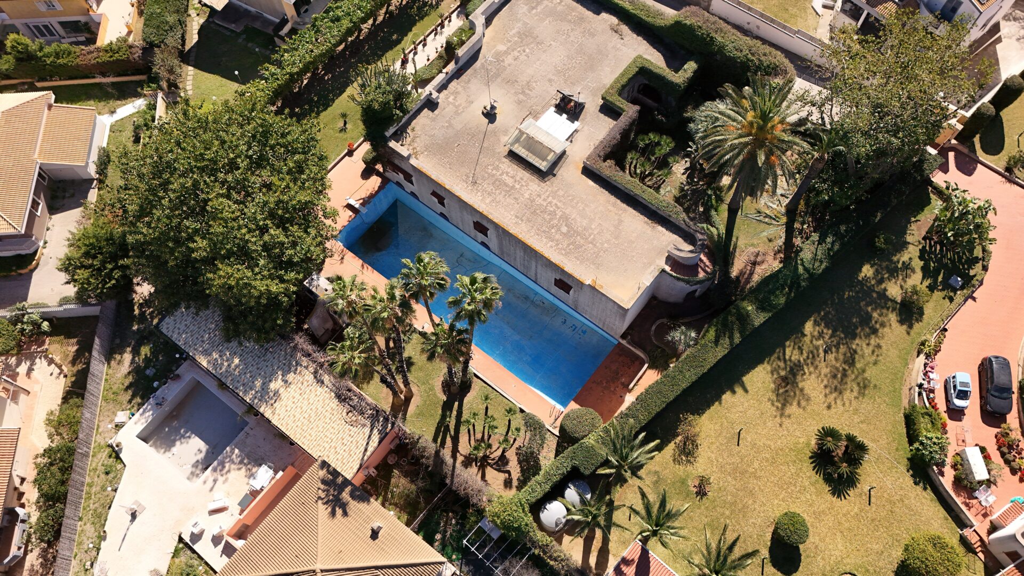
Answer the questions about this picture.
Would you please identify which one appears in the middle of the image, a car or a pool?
pool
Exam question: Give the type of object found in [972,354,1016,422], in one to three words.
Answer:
car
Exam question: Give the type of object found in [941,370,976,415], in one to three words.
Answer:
car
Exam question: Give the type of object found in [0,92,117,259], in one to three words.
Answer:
house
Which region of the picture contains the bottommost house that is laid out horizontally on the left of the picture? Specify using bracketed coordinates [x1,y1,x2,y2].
[211,459,467,576]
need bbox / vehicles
[941,370,976,415]
[972,354,1016,422]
